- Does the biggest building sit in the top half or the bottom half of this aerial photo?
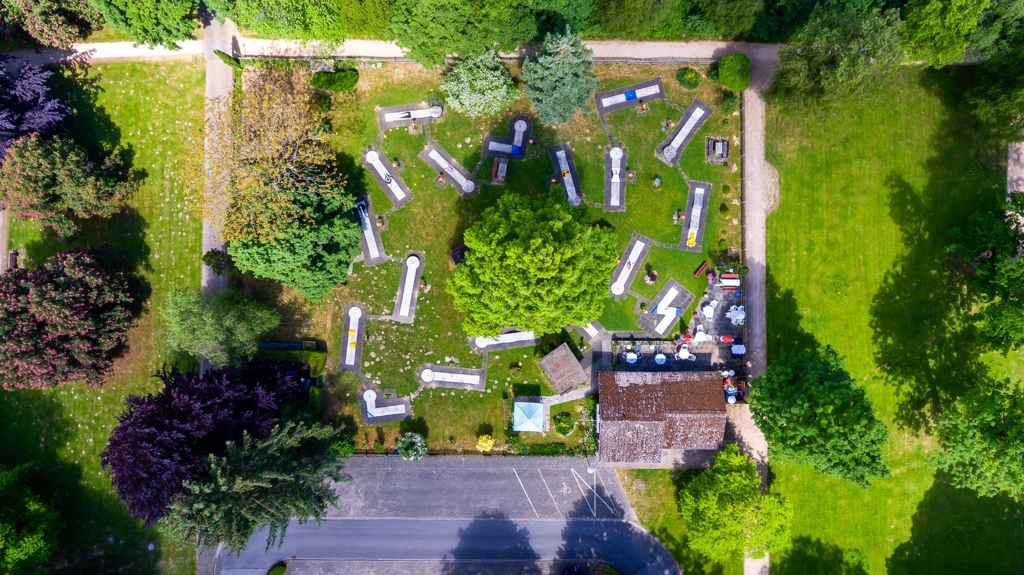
bottom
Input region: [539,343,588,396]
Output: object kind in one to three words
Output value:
shed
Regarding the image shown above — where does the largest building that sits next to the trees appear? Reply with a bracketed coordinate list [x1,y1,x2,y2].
[597,371,726,463]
